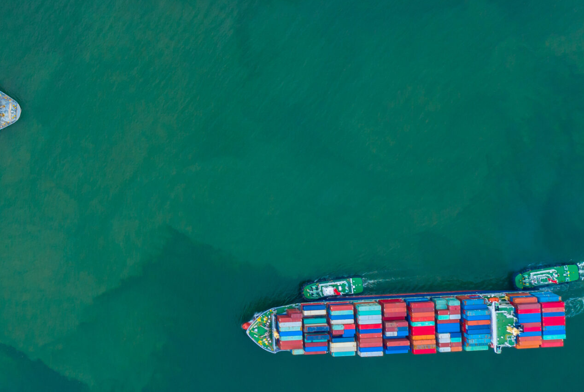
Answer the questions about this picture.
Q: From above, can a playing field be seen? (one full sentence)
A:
No, this view has no playing field in it.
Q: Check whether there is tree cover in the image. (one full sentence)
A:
No, there is no tree cover in the image.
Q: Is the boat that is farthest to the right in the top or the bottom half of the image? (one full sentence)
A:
Seen from above, the boat that is farthest to the right lies in the bottom half of the view.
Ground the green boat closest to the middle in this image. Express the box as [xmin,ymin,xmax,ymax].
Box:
[301,274,363,300]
